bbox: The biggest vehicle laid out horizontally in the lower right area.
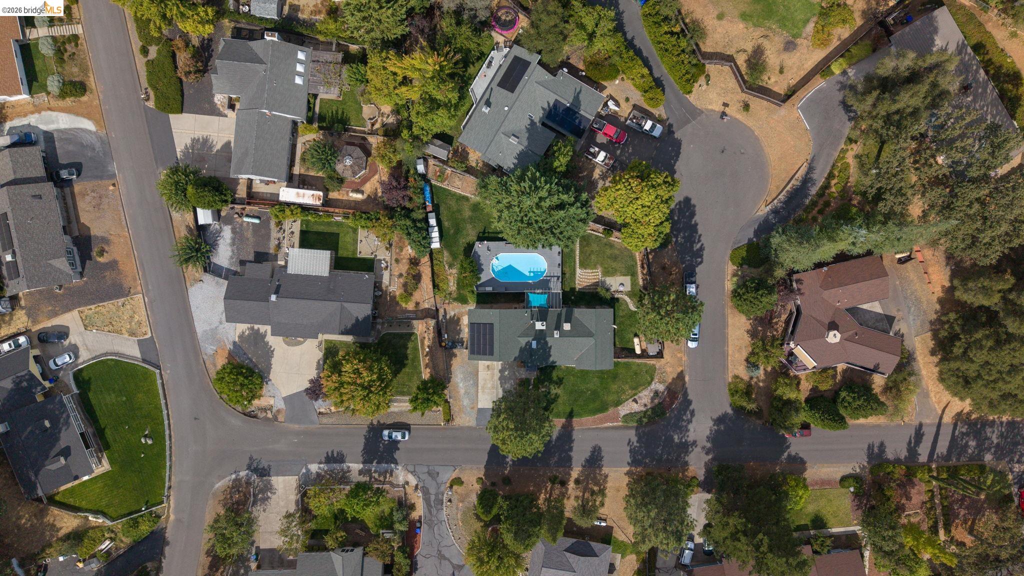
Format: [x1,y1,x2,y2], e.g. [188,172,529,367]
[783,428,813,441]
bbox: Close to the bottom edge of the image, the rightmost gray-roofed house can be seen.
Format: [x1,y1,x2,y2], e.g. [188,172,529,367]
[532,535,612,576]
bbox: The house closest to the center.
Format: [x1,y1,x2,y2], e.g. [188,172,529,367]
[468,307,614,370]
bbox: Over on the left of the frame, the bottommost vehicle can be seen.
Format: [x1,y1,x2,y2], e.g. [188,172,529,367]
[382,428,409,441]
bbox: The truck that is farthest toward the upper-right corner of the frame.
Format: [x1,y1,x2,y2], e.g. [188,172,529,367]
[625,111,663,137]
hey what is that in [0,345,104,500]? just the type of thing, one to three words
house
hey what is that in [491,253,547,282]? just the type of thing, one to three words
swimming pool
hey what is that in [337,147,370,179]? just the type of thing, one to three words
gazebo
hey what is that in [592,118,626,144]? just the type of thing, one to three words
truck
